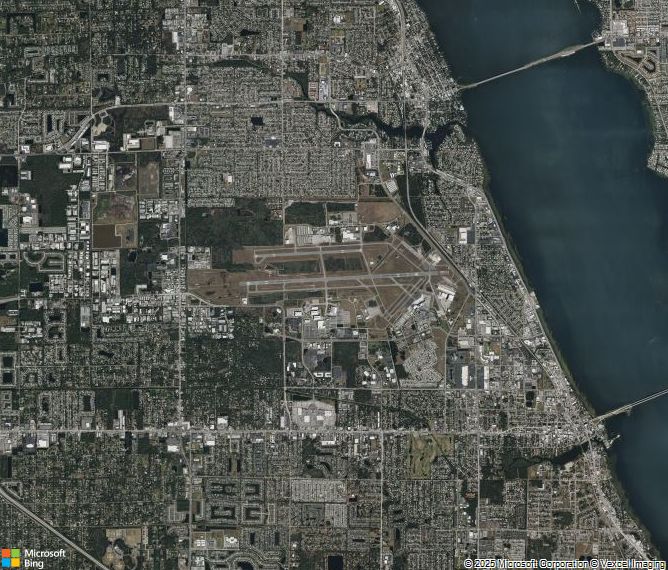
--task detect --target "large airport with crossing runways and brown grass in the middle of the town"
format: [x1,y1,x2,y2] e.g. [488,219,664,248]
[187,227,470,331]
